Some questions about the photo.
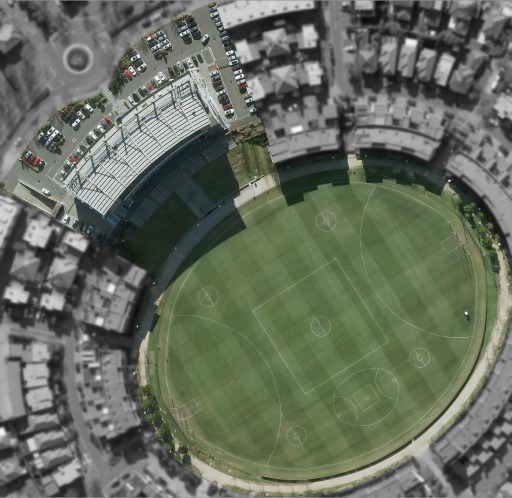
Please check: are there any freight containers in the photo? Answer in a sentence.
No, I can see no freight container in this picture.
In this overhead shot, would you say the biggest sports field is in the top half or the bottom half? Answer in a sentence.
The biggest sports field is in the bottom half of the image.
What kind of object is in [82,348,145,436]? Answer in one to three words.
building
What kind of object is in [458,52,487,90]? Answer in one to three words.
house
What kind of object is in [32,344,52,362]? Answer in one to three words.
house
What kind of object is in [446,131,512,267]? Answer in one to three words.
building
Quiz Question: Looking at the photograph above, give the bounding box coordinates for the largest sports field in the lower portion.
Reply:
[146,170,500,485]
